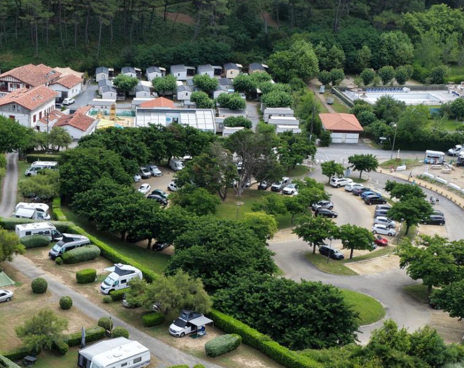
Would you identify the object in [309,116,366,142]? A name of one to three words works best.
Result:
building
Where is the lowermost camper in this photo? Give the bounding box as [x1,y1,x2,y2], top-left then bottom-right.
[79,331,154,368]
